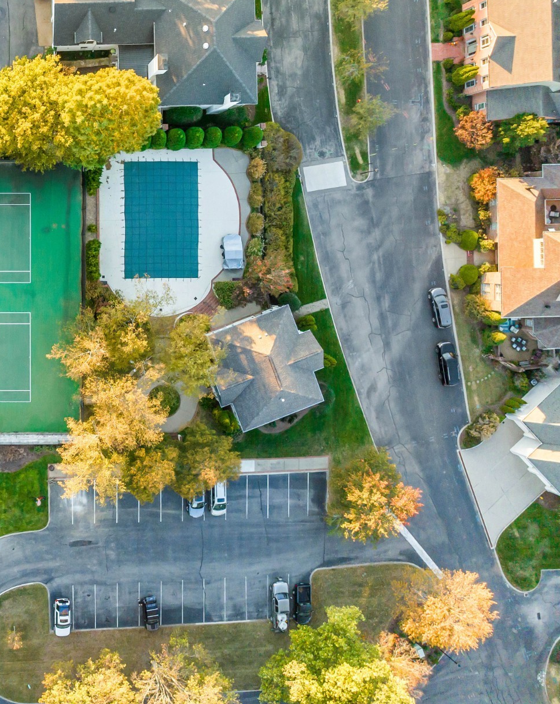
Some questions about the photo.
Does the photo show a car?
Yes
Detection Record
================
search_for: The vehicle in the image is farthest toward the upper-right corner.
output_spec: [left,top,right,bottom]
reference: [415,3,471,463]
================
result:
[429,288,456,329]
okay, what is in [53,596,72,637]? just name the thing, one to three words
car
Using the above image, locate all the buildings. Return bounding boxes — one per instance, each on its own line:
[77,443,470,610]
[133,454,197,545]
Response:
[52,0,268,116]
[464,163,560,350]
[204,302,325,433]
[499,377,560,499]
[456,0,560,122]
